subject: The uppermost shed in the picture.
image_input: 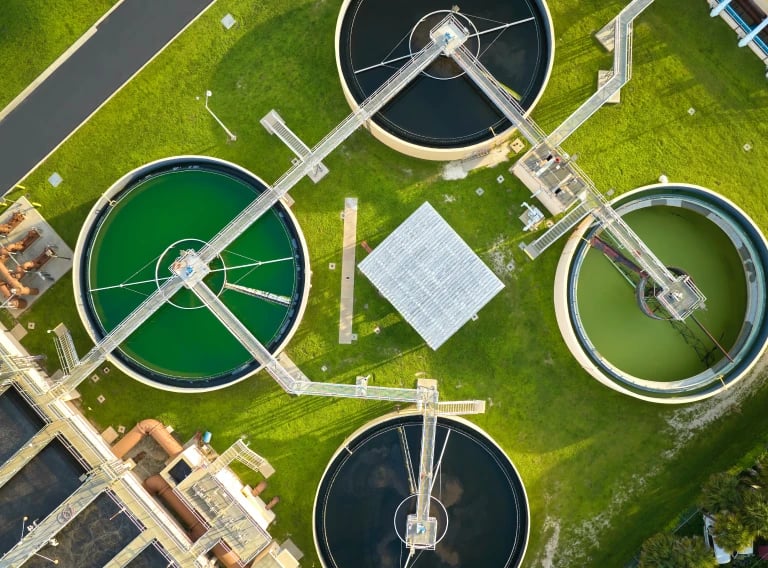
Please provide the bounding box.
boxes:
[358,202,504,349]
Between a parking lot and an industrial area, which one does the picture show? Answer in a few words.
industrial area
